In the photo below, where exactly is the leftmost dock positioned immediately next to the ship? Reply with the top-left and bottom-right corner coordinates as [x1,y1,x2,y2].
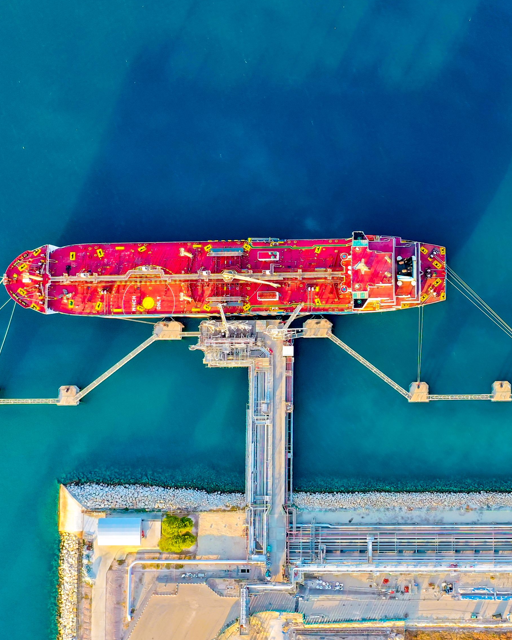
[199,319,285,418]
